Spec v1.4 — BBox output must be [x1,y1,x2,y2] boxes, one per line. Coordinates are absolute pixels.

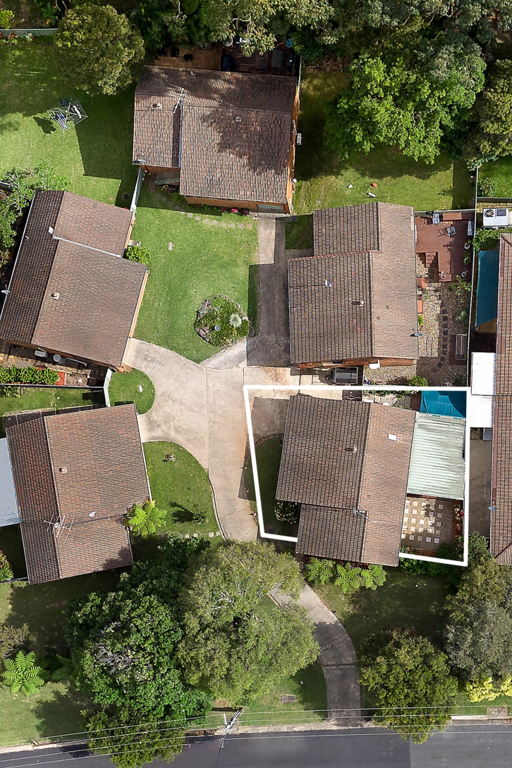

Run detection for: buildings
[0,404,153,584]
[275,395,466,567]
[0,190,149,367]
[468,233,512,564]
[132,64,301,213]
[287,201,421,367]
